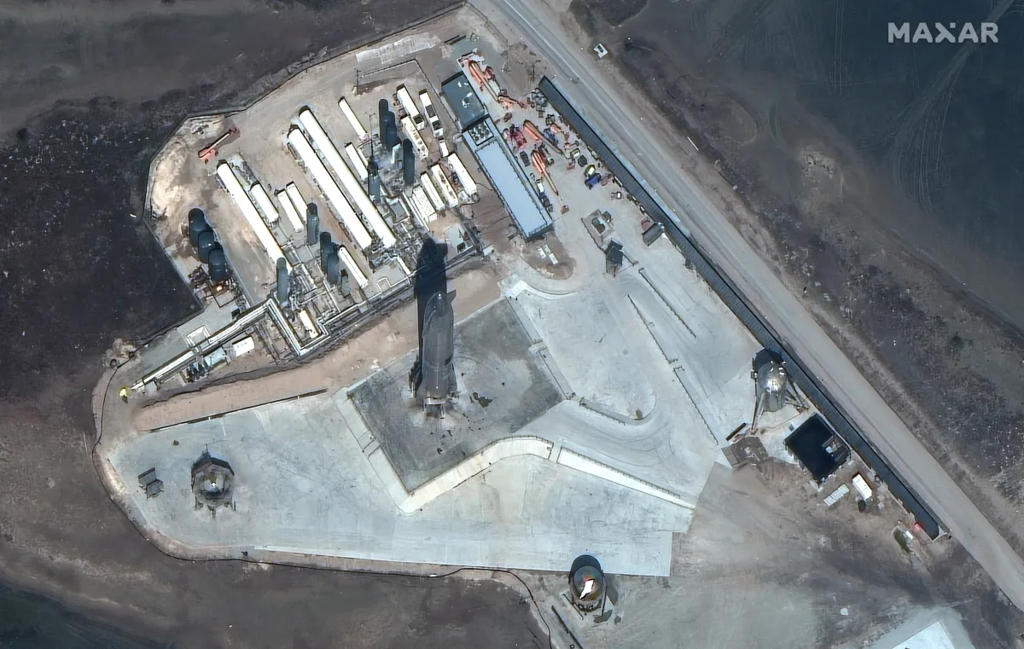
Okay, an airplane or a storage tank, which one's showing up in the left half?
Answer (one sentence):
Visible in the left half is a storage tank.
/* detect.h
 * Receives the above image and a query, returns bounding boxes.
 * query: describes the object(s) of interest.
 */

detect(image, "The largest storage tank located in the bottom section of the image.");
[569,570,607,613]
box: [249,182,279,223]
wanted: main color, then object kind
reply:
white storage tank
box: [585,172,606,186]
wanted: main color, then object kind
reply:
blue work vehicle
